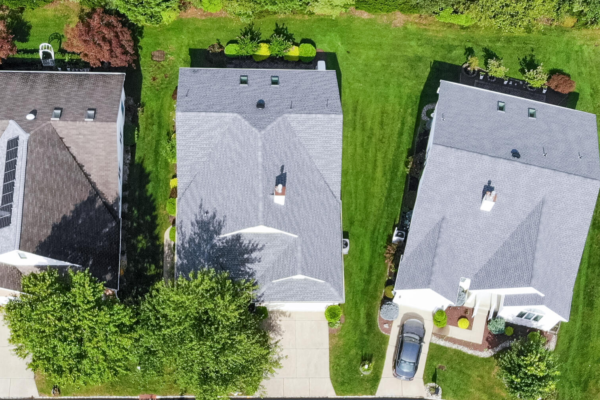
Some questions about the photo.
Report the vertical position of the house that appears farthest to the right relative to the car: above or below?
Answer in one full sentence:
From this view, the house that appears farthest to the right can be seen above the car.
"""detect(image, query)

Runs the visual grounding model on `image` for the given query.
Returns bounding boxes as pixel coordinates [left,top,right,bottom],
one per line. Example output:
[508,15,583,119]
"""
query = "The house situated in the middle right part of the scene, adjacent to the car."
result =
[390,79,600,336]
